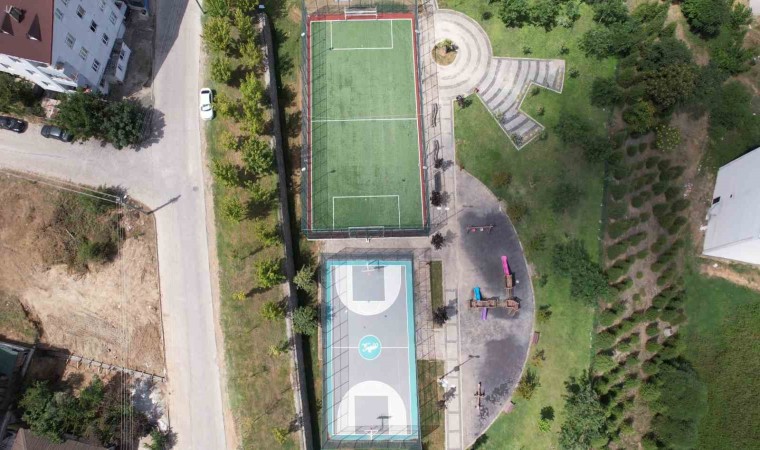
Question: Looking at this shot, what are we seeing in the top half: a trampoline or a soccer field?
soccer field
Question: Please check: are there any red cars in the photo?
No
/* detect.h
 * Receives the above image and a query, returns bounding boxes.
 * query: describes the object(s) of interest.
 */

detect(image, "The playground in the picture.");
[457,166,532,448]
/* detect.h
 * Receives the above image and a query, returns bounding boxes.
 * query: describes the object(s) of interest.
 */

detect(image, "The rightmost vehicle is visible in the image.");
[197,86,213,119]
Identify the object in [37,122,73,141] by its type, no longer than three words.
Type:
car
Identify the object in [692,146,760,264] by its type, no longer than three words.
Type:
building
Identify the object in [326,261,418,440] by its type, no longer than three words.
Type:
basketball court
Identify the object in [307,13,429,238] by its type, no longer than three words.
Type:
soccer field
